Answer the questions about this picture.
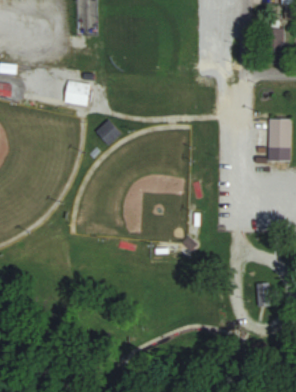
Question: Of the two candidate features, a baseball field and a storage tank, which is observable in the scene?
baseball field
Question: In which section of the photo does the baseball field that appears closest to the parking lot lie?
center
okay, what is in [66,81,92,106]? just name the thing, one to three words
building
